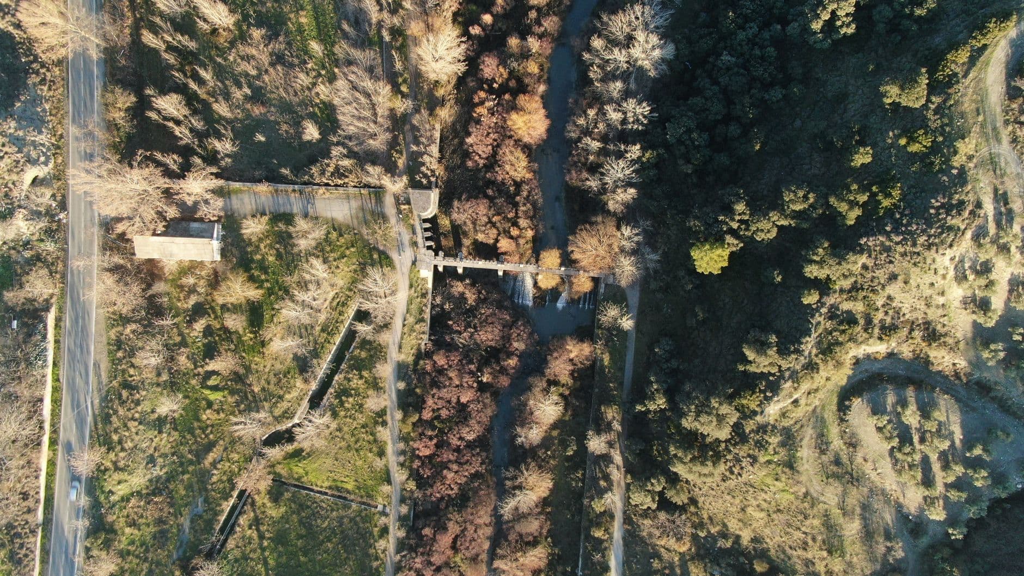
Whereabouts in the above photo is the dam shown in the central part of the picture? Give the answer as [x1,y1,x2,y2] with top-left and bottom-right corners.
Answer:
[504,272,599,304]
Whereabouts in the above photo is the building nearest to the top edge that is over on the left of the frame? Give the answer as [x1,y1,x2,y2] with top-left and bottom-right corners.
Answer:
[130,222,220,260]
